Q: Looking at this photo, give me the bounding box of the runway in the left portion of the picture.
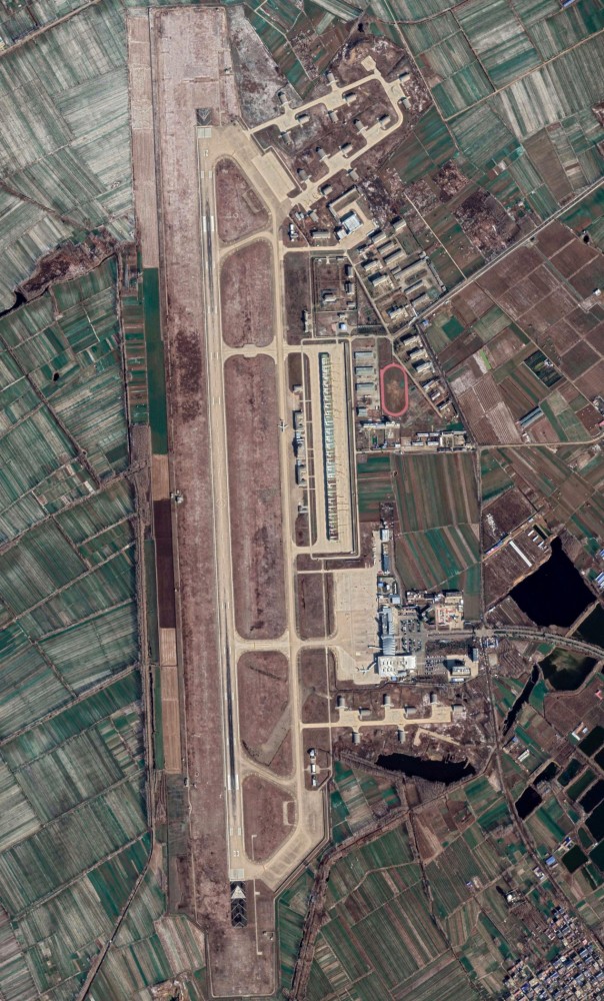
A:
[196,127,245,881]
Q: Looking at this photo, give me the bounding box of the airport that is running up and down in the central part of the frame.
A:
[150,7,453,997]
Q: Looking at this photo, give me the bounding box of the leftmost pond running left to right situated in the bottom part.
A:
[377,753,476,785]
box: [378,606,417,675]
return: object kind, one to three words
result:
building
